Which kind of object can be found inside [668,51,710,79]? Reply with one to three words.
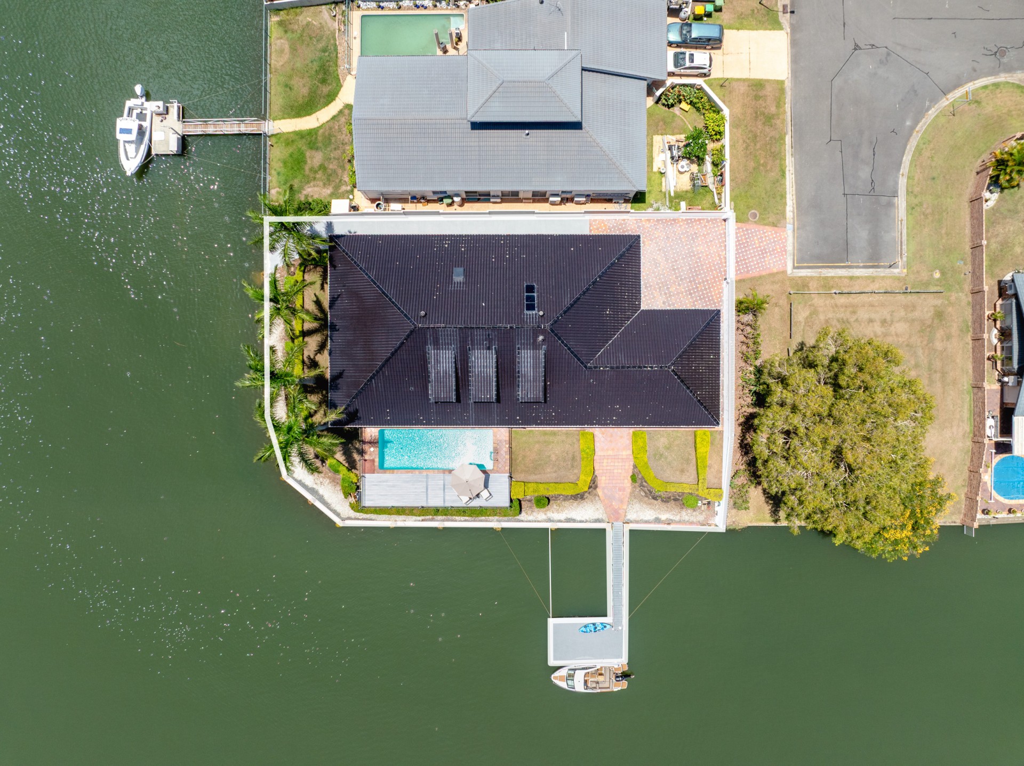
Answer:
car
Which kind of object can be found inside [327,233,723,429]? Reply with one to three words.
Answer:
house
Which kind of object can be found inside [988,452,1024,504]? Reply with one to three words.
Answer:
swimming pool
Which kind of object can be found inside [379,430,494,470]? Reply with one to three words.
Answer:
swimming pool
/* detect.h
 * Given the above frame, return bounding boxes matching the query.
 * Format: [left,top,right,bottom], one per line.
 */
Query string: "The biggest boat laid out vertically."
[115,89,153,178]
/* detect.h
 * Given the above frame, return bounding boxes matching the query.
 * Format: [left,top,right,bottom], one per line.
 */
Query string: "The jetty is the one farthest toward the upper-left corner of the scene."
[153,105,185,156]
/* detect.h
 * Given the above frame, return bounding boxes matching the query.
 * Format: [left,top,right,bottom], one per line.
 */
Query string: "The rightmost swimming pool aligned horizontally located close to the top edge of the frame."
[360,13,465,54]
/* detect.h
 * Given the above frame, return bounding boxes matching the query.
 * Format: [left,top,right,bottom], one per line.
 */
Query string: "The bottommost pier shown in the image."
[549,616,627,665]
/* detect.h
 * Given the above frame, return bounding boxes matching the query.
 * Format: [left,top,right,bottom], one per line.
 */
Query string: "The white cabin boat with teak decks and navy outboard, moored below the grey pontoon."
[551,664,637,693]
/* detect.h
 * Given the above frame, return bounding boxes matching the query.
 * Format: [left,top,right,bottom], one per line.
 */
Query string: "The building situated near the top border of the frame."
[352,0,668,208]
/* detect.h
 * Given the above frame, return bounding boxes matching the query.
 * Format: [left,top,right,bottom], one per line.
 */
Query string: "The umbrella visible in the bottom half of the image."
[446,462,483,499]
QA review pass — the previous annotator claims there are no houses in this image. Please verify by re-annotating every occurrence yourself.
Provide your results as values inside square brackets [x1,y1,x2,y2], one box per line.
[327,233,723,429]
[352,0,668,208]
[986,272,1024,457]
